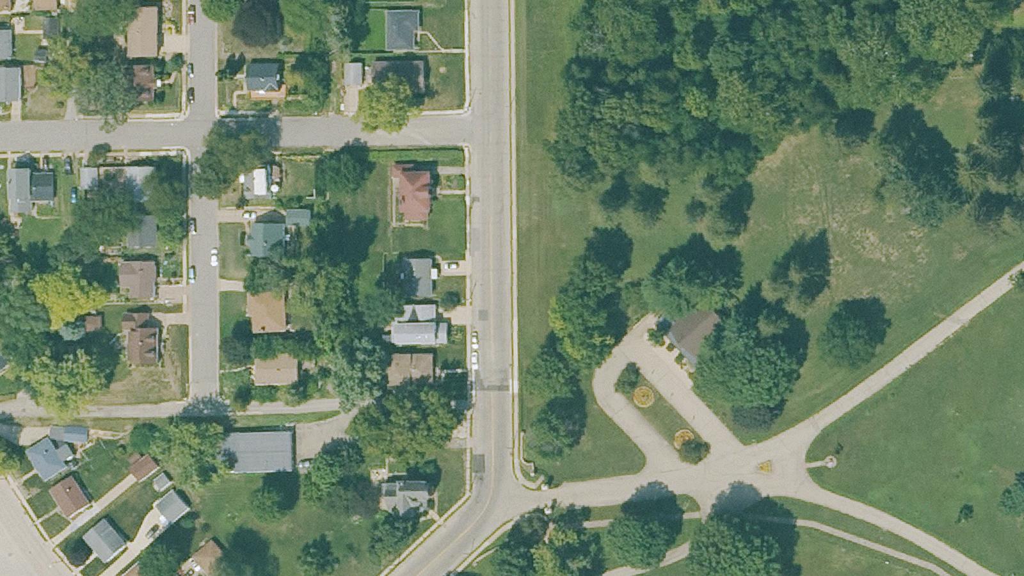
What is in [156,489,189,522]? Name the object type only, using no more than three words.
building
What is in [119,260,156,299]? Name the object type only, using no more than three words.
house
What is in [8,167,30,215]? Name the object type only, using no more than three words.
house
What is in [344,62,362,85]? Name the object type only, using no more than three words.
building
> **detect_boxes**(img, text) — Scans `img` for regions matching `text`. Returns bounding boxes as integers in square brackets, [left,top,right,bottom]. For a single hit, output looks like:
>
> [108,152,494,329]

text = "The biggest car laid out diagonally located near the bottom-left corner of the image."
[146,524,160,539]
